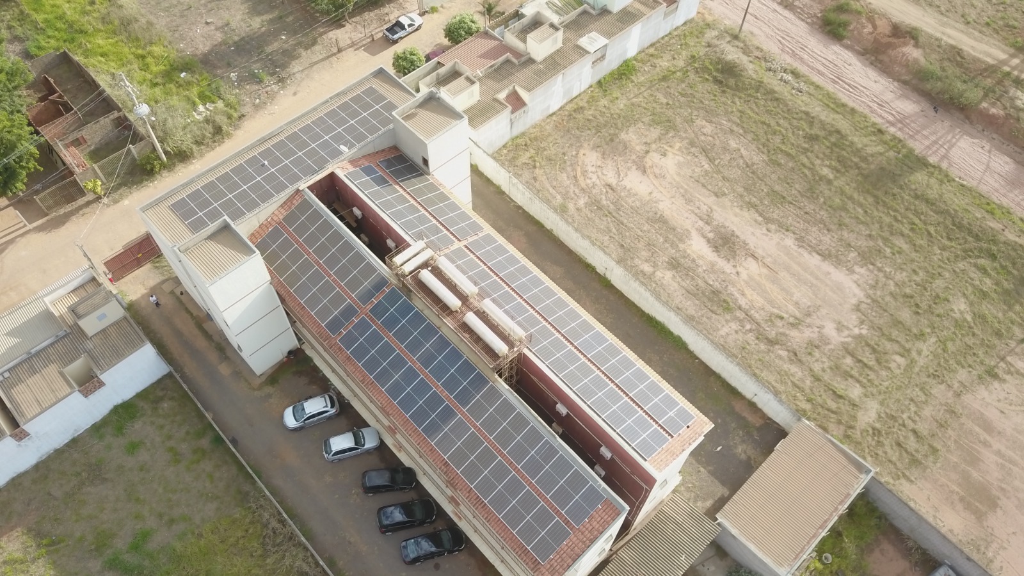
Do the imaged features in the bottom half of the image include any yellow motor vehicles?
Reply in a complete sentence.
No, in the bottom half of the image there is no yellow motor vehicle.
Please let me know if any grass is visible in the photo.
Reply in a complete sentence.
Yes, the picture does contain grass.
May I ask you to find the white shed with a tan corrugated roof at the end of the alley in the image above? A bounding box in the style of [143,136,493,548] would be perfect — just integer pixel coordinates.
[700,417,876,576]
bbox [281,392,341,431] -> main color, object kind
gray car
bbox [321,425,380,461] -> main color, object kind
gray car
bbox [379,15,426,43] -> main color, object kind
white truck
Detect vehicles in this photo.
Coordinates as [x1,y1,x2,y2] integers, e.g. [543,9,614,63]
[321,425,380,461]
[397,527,466,568]
[359,462,419,497]
[374,496,438,534]
[423,44,464,67]
[281,392,341,431]
[379,15,426,43]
